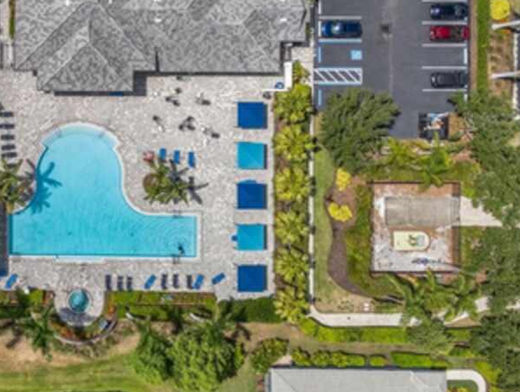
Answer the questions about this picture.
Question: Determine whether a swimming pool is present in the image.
Yes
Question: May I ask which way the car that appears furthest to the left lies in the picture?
horizontally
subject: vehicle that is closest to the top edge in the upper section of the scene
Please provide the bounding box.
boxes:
[427,2,465,21]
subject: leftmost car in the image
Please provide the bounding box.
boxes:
[319,20,361,39]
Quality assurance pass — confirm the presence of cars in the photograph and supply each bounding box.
[428,24,467,43]
[319,20,361,39]
[428,70,465,89]
[427,2,465,21]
